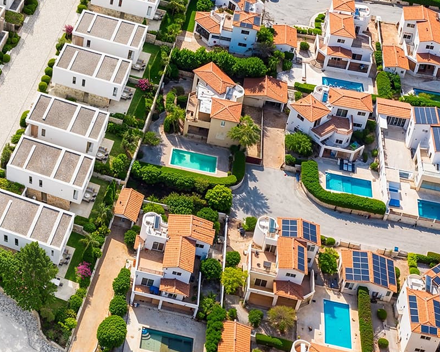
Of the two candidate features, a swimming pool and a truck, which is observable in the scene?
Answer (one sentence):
Visible in the photo is a swimming pool.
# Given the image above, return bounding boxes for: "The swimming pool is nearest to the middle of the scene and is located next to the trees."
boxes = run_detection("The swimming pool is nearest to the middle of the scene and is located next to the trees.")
[168,146,220,173]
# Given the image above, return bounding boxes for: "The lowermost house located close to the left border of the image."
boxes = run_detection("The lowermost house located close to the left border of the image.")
[0,190,75,270]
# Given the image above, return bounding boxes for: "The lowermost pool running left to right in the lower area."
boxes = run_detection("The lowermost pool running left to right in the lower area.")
[137,322,195,352]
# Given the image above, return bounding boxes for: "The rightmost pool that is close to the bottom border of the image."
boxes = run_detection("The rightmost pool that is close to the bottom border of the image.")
[320,297,355,351]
